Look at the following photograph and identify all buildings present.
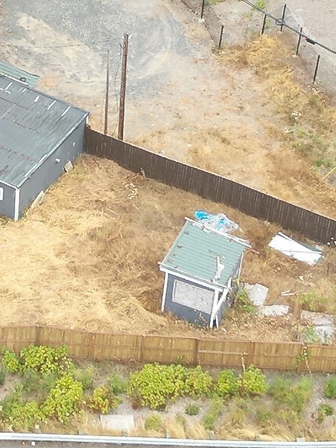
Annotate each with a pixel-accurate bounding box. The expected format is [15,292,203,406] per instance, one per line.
[0,63,91,223]
[155,223,262,329]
